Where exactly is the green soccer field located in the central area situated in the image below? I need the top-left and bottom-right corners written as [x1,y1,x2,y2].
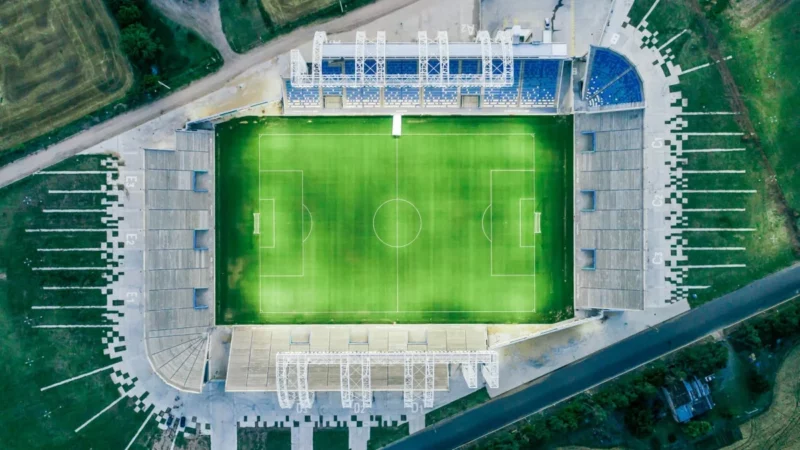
[216,114,574,324]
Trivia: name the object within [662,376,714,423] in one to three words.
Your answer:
house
